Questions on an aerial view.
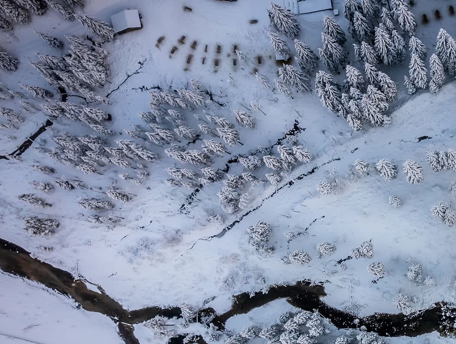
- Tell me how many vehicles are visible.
0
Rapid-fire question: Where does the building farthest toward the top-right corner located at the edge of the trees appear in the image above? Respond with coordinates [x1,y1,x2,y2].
[298,0,332,15]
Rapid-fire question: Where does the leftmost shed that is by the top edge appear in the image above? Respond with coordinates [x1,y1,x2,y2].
[114,9,145,34]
